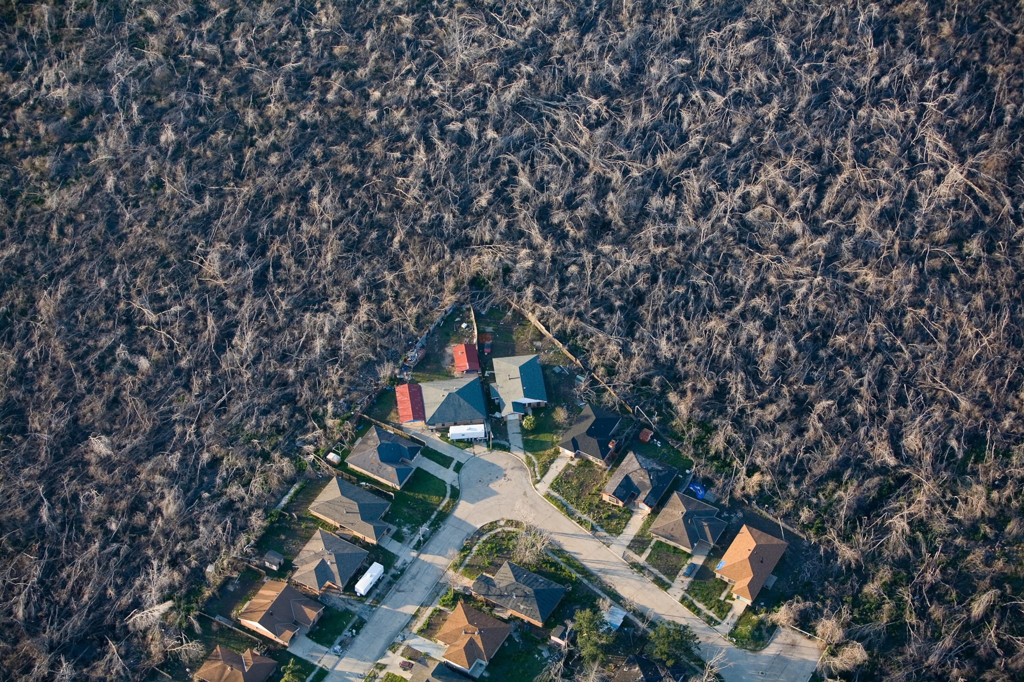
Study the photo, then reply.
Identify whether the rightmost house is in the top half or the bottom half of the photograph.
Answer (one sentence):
The bottom half of the photo is where the rightmost house is.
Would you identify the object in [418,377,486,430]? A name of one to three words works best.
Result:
house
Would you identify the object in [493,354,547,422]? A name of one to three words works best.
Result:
house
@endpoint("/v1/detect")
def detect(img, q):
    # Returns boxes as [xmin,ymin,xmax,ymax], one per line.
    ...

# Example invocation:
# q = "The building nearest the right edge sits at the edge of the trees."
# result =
[714,524,788,607]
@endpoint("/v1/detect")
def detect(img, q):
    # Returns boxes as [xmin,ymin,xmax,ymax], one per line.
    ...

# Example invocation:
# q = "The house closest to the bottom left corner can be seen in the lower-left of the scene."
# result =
[196,645,277,682]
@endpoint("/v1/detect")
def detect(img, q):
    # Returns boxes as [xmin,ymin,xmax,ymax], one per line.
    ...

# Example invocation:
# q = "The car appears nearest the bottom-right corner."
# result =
[682,561,698,578]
